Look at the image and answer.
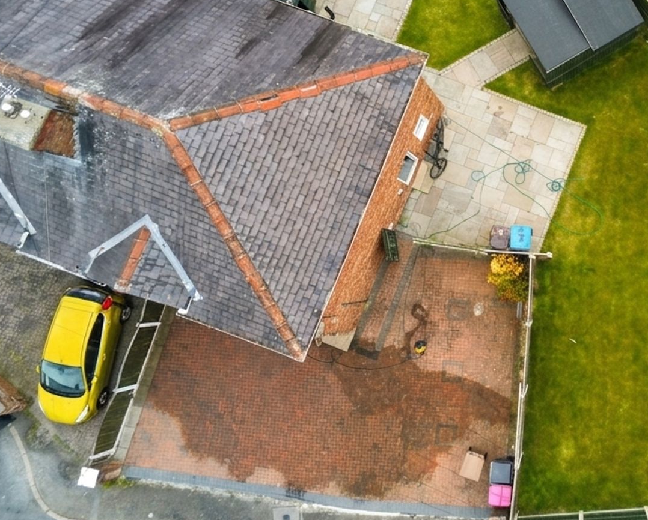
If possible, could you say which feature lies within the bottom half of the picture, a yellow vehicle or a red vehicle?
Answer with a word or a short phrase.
yellow vehicle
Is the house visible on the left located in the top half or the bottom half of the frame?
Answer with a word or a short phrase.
top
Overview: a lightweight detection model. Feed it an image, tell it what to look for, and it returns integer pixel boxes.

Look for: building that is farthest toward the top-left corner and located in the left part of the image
[0,0,440,364]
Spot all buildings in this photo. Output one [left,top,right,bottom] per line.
[504,0,641,85]
[0,0,440,364]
